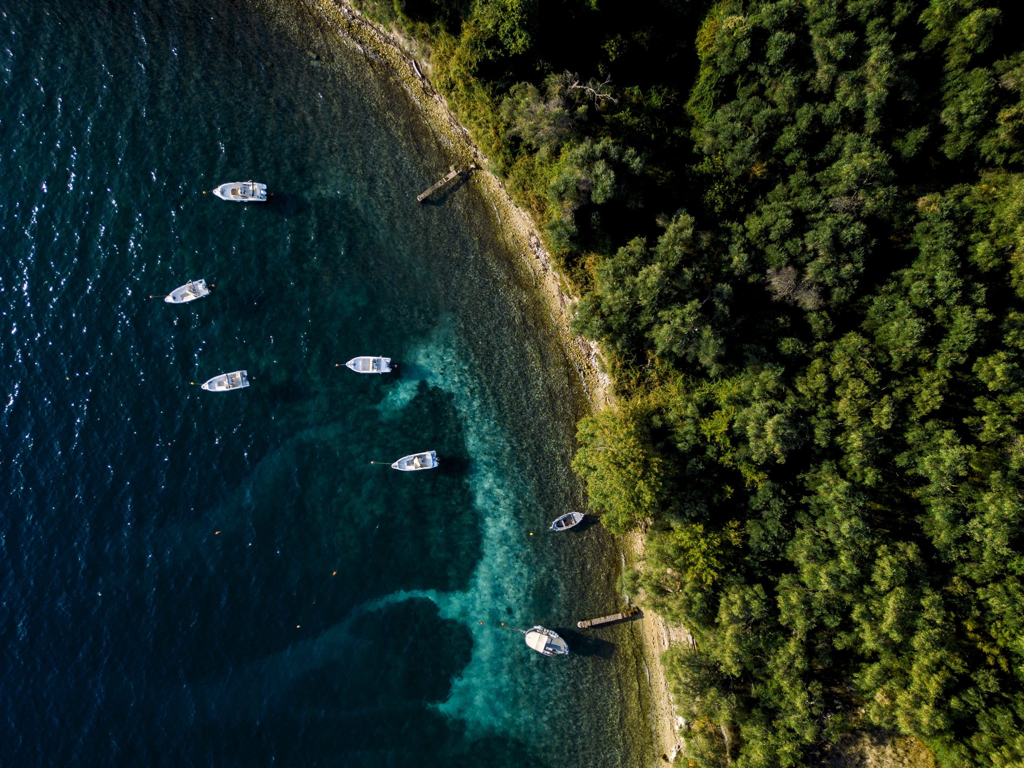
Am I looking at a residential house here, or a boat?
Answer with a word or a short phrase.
boat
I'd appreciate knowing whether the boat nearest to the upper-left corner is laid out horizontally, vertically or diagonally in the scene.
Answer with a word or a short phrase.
horizontally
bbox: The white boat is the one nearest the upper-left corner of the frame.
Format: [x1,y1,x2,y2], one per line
[212,178,275,203]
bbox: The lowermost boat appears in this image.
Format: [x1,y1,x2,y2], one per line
[515,625,579,655]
